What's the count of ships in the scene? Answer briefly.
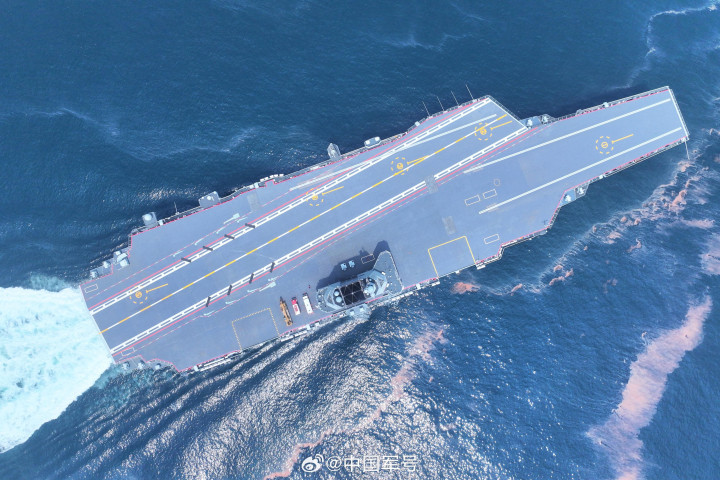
one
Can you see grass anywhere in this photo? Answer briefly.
No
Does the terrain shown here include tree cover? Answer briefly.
No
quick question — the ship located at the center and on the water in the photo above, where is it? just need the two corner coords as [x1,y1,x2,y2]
[80,86,689,375]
